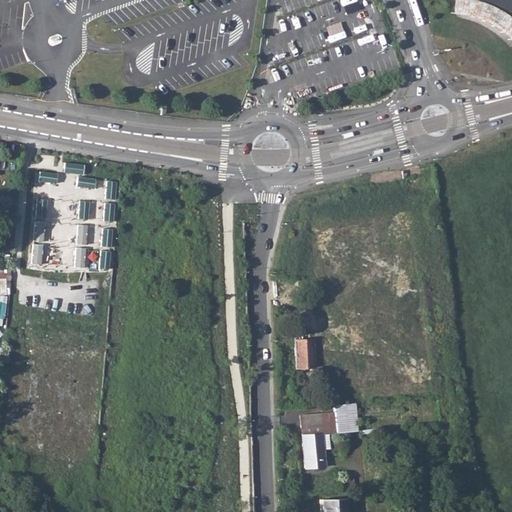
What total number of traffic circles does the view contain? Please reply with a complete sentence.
Looking from above, you can make out 2 traffic circles.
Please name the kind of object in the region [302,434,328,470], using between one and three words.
house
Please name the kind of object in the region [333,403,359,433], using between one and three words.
shed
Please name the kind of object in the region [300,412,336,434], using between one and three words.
barn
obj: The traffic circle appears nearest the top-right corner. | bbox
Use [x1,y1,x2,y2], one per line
[404,90,466,152]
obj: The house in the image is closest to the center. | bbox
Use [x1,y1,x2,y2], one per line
[296,339,317,370]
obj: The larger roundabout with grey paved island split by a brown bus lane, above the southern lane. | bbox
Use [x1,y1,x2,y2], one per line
[236,117,306,188]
